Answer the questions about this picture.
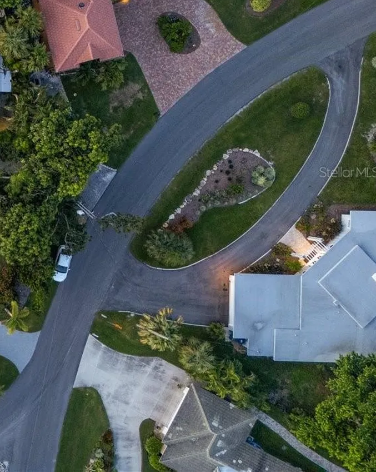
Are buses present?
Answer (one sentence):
No, there is no bus in the image.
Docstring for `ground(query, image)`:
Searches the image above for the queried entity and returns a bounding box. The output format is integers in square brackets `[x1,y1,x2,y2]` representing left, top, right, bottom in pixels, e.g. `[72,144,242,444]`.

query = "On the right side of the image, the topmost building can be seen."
[224,210,376,364]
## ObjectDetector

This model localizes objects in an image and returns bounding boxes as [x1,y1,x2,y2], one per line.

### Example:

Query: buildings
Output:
[155,380,304,472]
[224,210,376,364]
[36,0,125,73]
